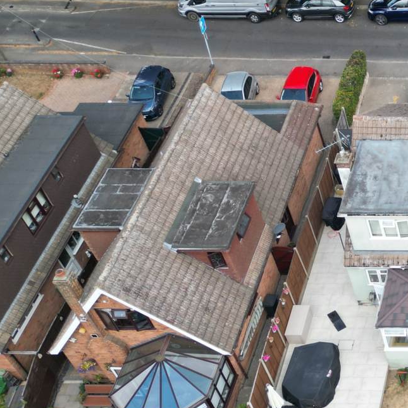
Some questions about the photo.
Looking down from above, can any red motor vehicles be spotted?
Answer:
Yes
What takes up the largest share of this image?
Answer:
buildings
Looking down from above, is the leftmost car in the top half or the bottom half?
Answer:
top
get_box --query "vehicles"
[273,69,323,106]
[122,65,185,128]
[174,0,282,20]
[369,0,408,24]
[286,0,362,21]
[216,71,262,106]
